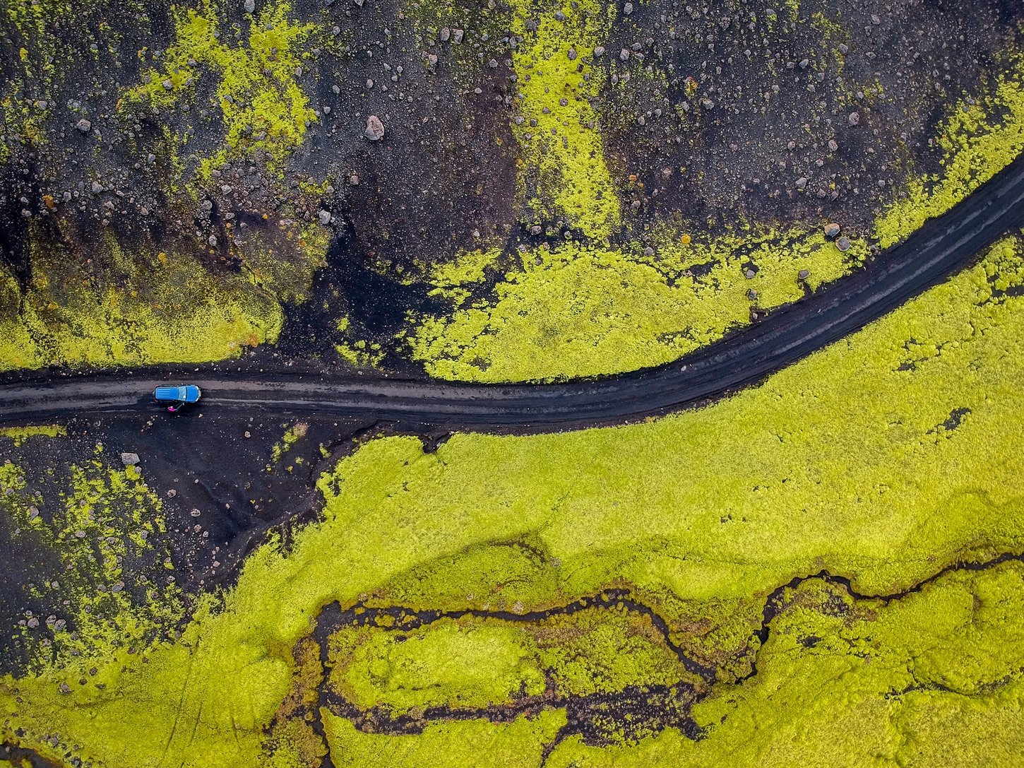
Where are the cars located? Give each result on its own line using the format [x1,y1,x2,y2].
[151,383,202,412]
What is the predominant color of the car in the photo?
blue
